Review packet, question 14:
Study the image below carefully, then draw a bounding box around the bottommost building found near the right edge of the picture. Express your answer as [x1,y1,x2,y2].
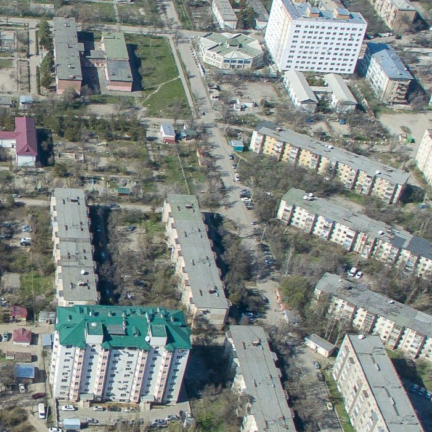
[336,334,424,432]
